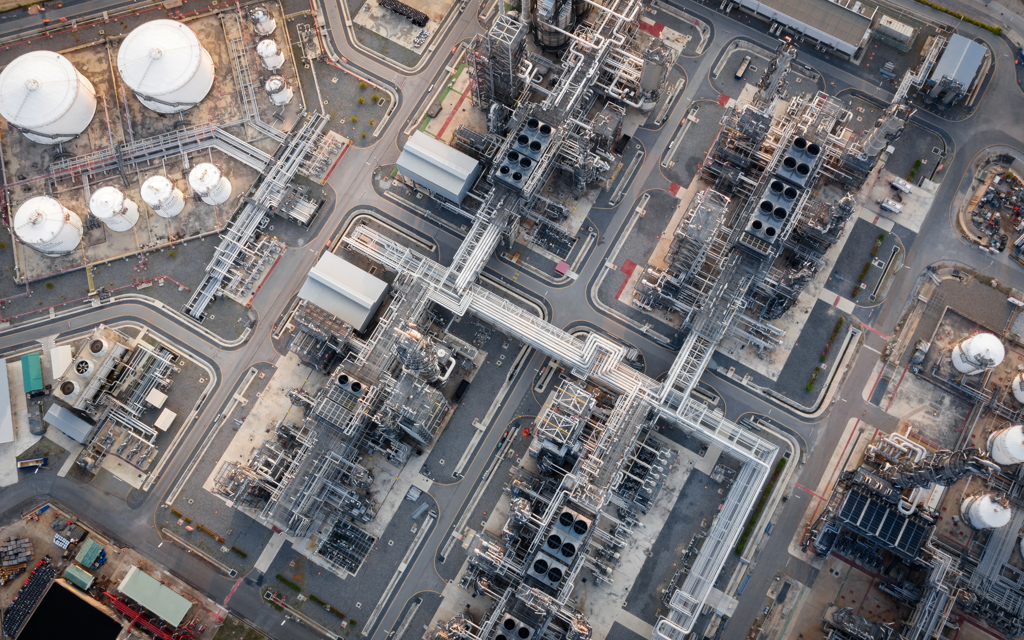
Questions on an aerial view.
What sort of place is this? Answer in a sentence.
This looks like an industrial area.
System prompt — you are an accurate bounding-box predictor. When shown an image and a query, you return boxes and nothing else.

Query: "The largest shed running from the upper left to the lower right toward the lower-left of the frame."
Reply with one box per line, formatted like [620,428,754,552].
[118,565,199,627]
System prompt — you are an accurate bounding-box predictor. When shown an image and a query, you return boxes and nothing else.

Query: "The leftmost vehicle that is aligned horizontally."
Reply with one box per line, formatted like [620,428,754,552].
[18,456,48,469]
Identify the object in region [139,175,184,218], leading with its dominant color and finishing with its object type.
white storage tank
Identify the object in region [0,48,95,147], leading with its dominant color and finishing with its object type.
white storage tank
